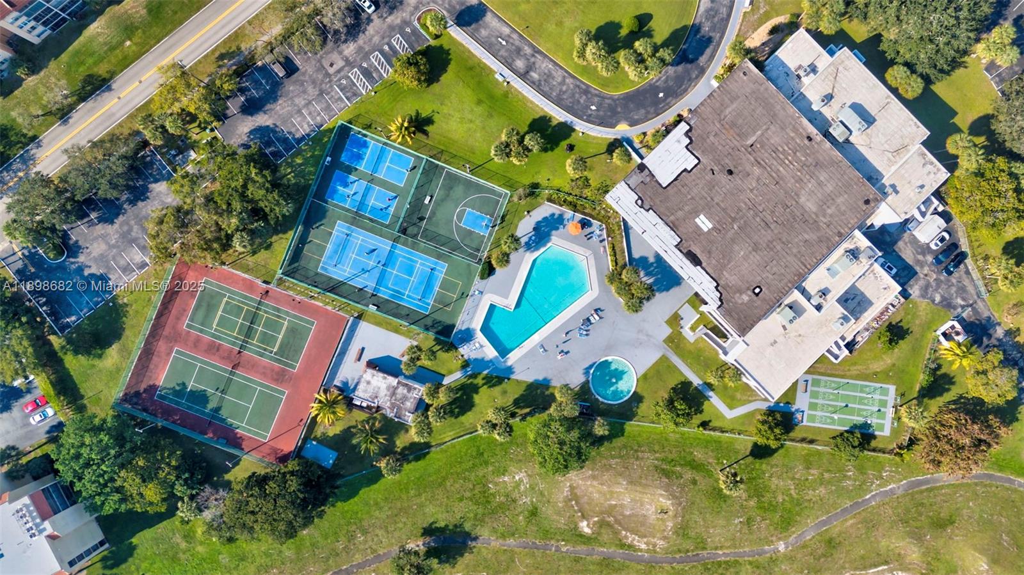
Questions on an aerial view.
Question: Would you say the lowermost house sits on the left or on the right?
left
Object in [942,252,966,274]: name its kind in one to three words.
car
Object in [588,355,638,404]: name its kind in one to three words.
swimming pool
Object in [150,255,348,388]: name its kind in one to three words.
tennis court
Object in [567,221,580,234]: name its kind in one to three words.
umbrella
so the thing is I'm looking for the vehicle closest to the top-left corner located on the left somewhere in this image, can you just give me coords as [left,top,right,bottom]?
[266,58,290,80]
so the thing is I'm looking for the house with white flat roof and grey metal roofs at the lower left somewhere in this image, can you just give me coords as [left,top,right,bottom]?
[0,474,115,575]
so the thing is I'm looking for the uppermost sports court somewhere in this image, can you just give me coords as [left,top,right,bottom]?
[329,124,422,191]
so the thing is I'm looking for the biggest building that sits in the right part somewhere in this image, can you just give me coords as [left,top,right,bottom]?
[604,28,952,401]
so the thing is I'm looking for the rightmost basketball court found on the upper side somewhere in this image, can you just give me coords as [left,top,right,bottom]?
[398,159,509,264]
